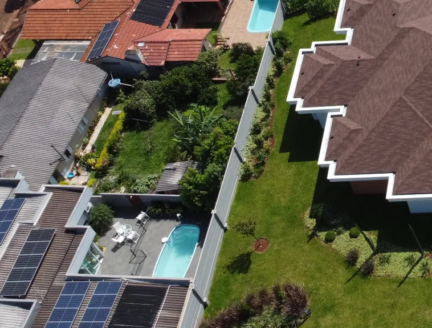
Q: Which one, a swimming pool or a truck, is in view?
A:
swimming pool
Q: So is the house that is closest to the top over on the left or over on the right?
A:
left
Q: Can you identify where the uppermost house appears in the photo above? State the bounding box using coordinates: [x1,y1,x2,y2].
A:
[21,0,212,88]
